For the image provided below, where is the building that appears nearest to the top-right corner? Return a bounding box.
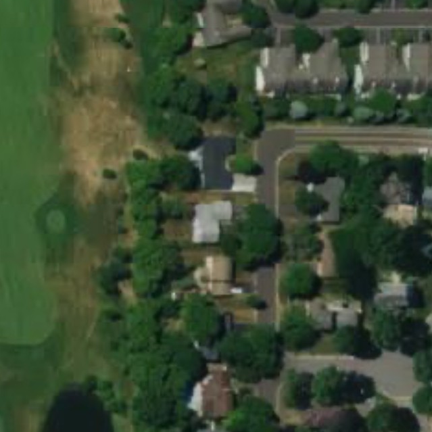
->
[355,38,432,99]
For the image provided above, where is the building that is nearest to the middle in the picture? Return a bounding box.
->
[193,203,232,243]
